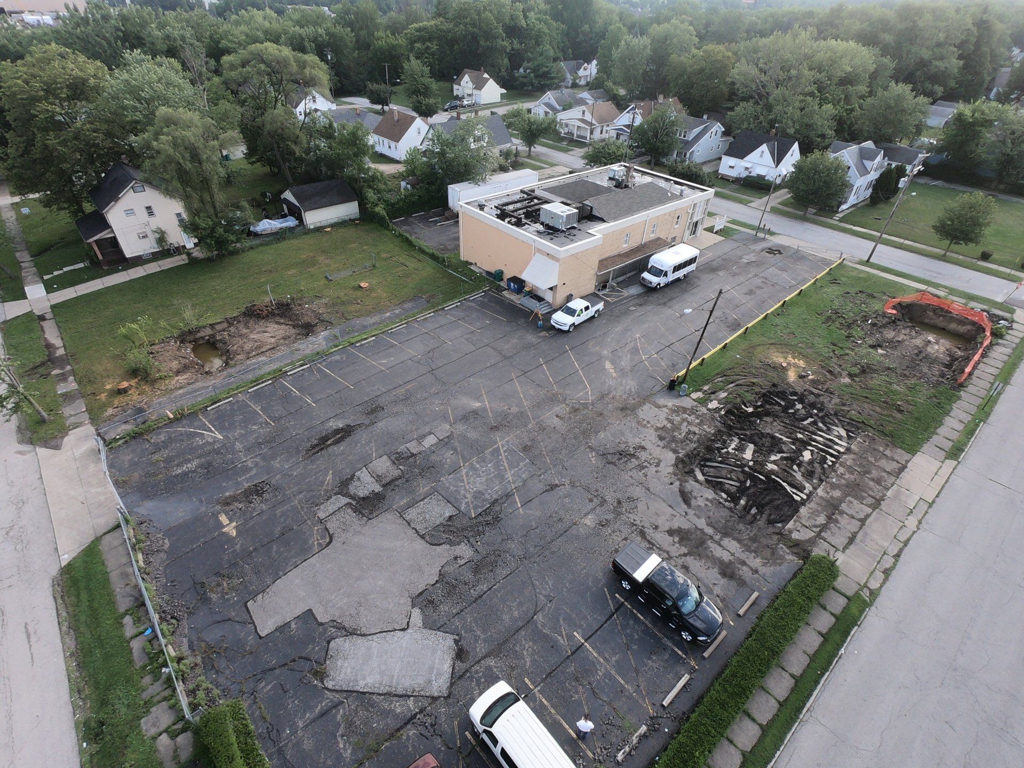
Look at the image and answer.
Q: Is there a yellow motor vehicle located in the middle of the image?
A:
No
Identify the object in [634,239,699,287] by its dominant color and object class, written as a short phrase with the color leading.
white vehicle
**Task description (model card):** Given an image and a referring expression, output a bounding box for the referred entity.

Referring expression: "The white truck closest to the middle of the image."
[548,292,607,330]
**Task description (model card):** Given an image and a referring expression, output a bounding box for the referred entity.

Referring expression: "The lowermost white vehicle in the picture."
[468,676,584,768]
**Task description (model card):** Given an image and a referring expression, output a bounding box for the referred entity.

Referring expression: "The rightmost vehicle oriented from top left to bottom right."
[608,534,732,652]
